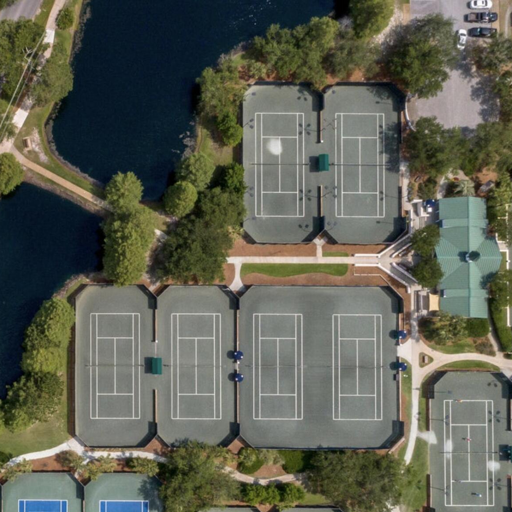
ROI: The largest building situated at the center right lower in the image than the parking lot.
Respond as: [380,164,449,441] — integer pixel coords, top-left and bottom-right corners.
[432,196,502,318]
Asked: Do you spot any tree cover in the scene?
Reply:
Yes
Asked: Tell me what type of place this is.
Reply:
sports ground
